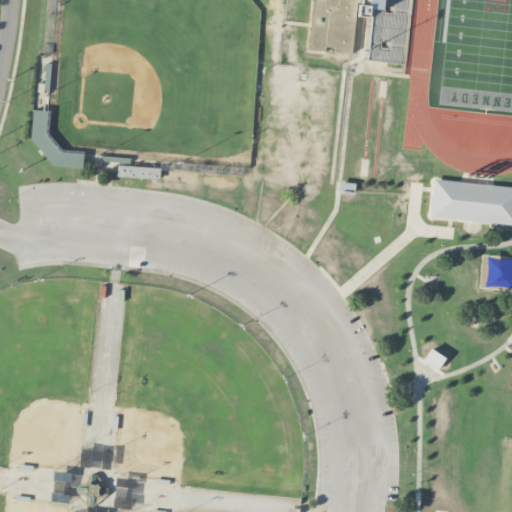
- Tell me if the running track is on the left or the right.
right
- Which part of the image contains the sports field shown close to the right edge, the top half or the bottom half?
top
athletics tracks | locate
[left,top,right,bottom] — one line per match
[404,0,512,176]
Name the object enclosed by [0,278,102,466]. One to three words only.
baseball field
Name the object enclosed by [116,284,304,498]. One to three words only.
baseball field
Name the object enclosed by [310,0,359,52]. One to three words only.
building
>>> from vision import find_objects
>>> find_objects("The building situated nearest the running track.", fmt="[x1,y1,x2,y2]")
[432,180,512,226]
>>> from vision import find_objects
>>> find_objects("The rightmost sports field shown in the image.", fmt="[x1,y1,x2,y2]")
[430,0,512,117]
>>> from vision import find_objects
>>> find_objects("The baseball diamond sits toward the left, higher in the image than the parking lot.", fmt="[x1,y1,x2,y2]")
[54,0,260,172]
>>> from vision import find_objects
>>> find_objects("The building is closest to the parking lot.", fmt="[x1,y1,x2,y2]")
[118,163,162,180]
